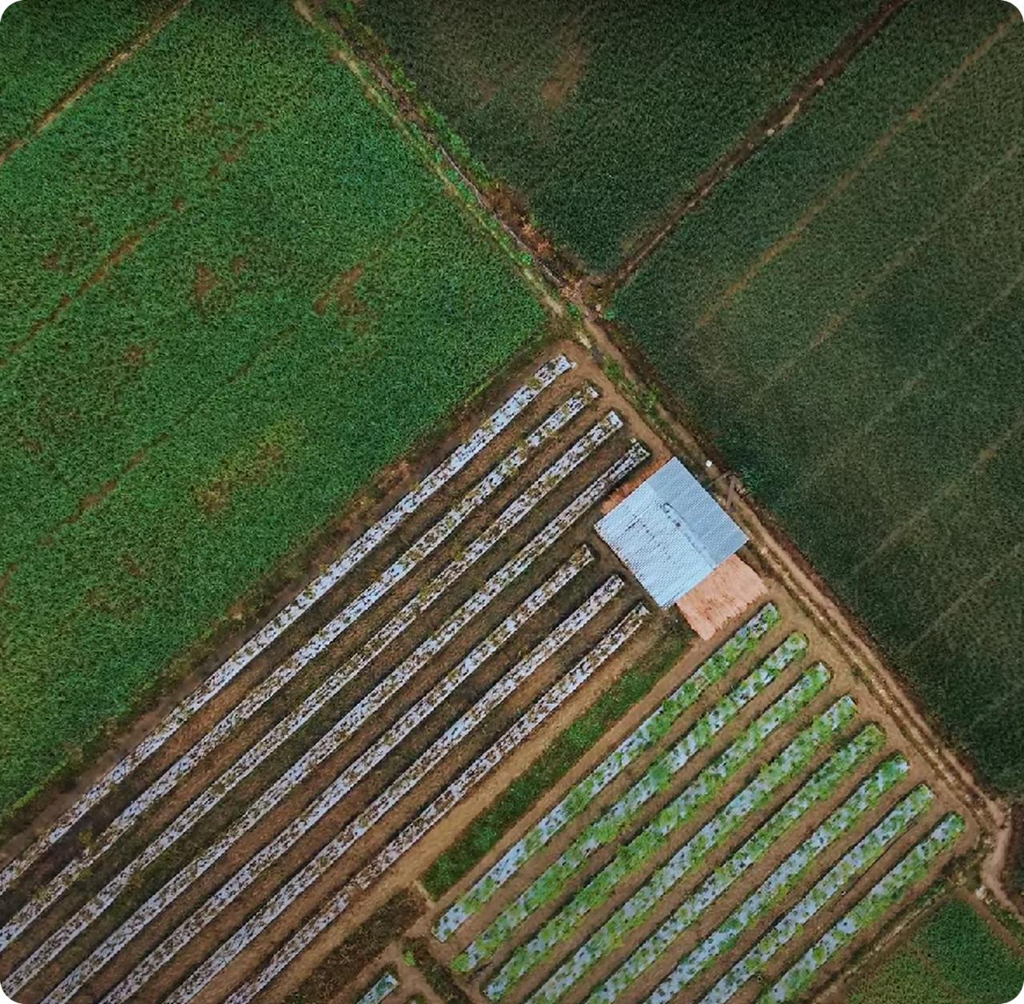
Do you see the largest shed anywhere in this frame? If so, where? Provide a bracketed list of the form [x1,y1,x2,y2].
[593,454,771,643]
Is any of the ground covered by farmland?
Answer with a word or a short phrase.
Yes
